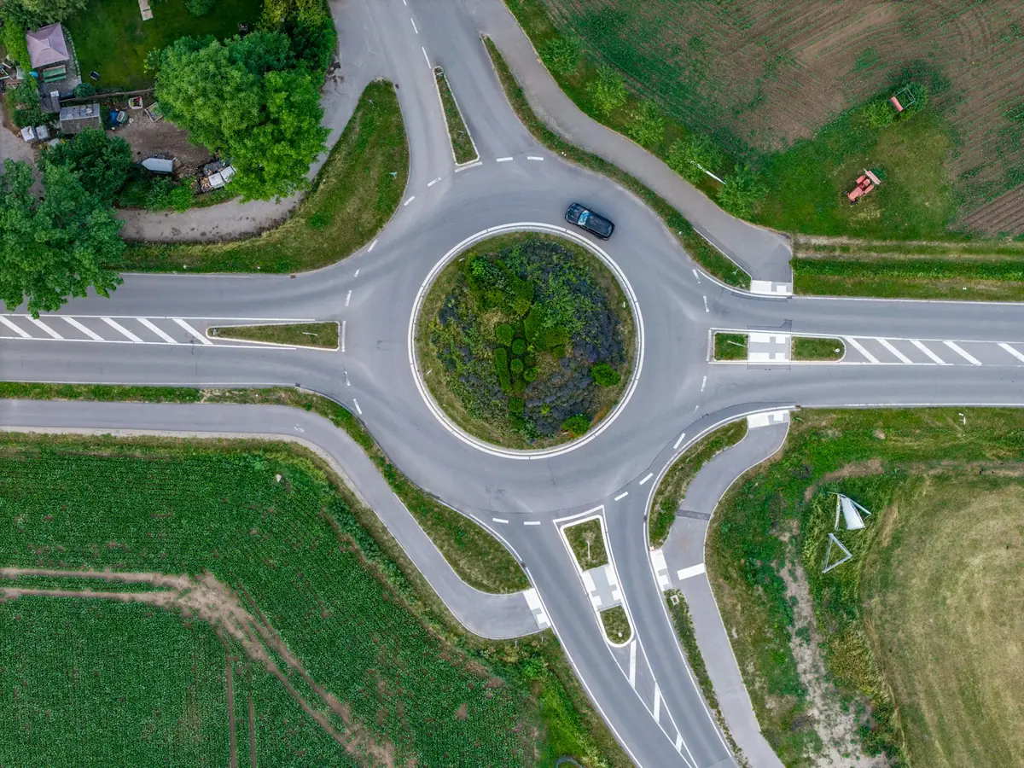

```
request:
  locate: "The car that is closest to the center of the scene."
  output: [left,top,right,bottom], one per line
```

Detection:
[564,203,617,240]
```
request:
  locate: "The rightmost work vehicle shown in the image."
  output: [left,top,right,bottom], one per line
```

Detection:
[841,170,878,209]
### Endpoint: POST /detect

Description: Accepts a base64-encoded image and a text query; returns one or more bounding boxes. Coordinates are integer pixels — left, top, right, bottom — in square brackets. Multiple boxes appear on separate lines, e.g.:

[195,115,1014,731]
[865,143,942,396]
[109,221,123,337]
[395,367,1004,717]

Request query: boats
[142,158,176,173]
